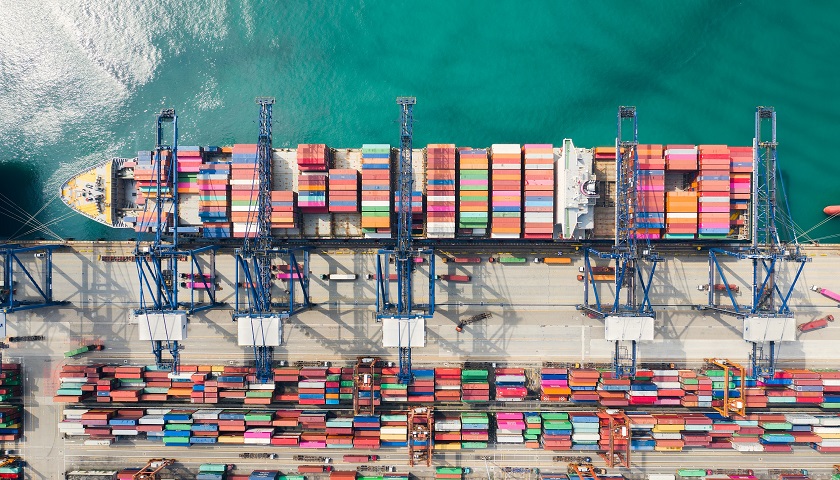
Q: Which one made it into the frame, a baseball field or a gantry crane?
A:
gantry crane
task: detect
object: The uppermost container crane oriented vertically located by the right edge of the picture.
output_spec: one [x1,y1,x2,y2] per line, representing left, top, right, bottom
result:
[690,106,813,378]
